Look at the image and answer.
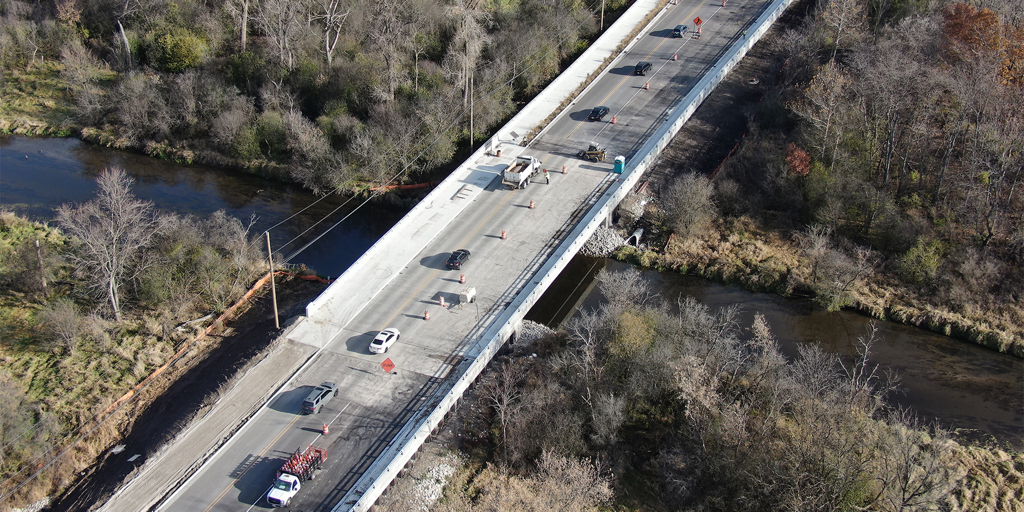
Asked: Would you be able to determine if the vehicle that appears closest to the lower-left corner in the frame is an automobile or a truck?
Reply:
truck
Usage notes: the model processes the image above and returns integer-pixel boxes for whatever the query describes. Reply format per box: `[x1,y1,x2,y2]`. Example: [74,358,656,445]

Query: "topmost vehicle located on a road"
[671,22,690,38]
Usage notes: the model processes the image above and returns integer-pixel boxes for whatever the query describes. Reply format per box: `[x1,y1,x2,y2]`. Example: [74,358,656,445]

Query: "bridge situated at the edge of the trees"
[285,0,791,512]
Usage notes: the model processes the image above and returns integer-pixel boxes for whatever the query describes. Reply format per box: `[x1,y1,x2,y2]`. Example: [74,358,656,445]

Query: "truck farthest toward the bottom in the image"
[263,442,327,511]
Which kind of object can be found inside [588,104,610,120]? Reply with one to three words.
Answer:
car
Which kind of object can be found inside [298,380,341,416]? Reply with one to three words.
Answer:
car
